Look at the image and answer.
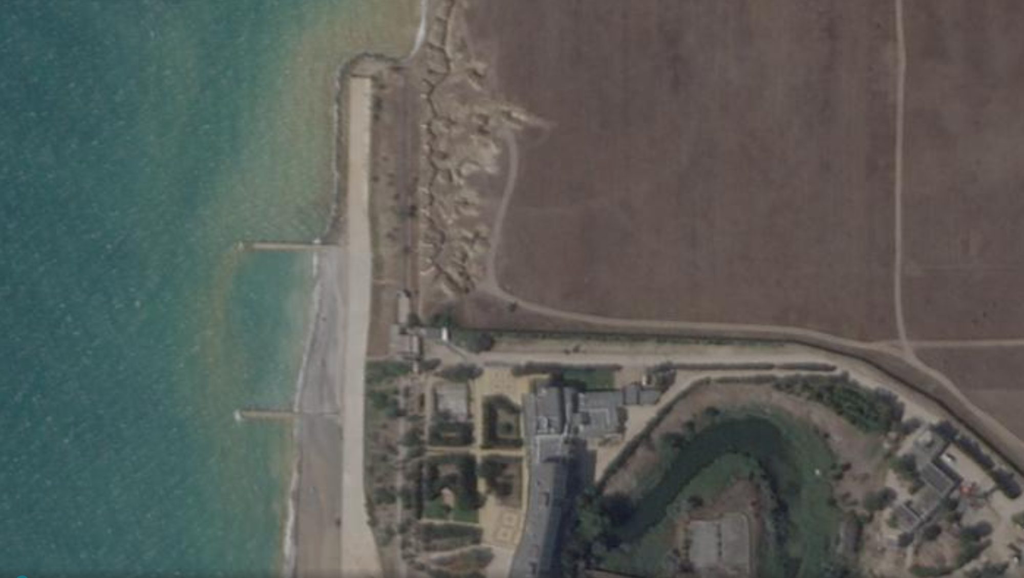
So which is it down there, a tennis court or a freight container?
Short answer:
tennis court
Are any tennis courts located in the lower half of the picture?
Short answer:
Yes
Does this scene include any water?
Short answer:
Yes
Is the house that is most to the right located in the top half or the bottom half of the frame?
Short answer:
bottom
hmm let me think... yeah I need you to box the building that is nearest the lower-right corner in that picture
[891,429,955,533]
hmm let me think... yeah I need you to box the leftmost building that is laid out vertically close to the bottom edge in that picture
[511,457,568,578]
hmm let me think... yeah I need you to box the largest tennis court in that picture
[689,518,749,577]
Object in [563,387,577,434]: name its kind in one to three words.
building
